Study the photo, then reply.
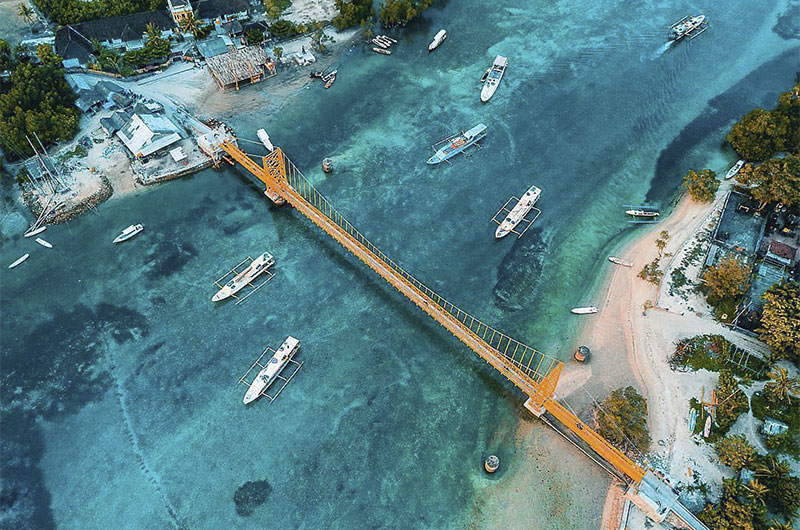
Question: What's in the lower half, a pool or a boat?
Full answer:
What appears in the lower half is a boat.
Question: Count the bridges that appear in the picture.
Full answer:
I count 1 bridge.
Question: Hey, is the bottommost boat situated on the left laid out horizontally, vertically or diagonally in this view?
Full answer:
In this picture, the bottommost boat situated on the left lies diagonally.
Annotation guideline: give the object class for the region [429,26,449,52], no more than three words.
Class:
boat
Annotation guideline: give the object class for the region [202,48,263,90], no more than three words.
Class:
building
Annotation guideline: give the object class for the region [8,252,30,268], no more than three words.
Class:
boat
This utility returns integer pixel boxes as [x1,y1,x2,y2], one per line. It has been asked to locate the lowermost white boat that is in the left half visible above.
[232,332,309,409]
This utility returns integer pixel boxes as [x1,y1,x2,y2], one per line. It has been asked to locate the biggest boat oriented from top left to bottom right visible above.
[255,125,276,155]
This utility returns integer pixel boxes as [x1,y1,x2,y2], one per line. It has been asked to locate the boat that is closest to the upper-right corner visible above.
[662,14,718,42]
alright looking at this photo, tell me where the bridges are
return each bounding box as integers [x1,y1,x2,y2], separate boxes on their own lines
[212,136,651,482]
